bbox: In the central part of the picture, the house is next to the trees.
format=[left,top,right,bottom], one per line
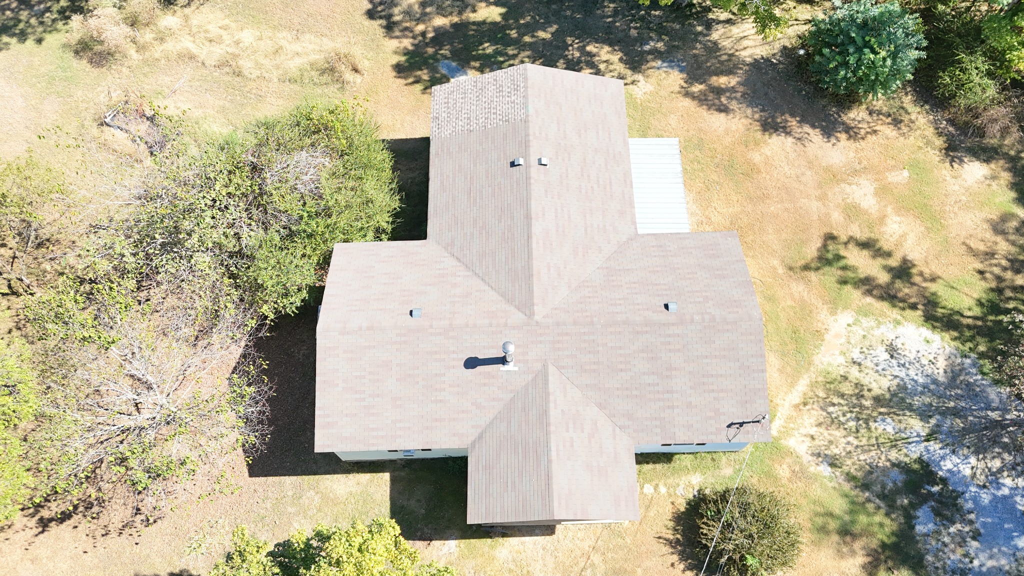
[314,64,772,527]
